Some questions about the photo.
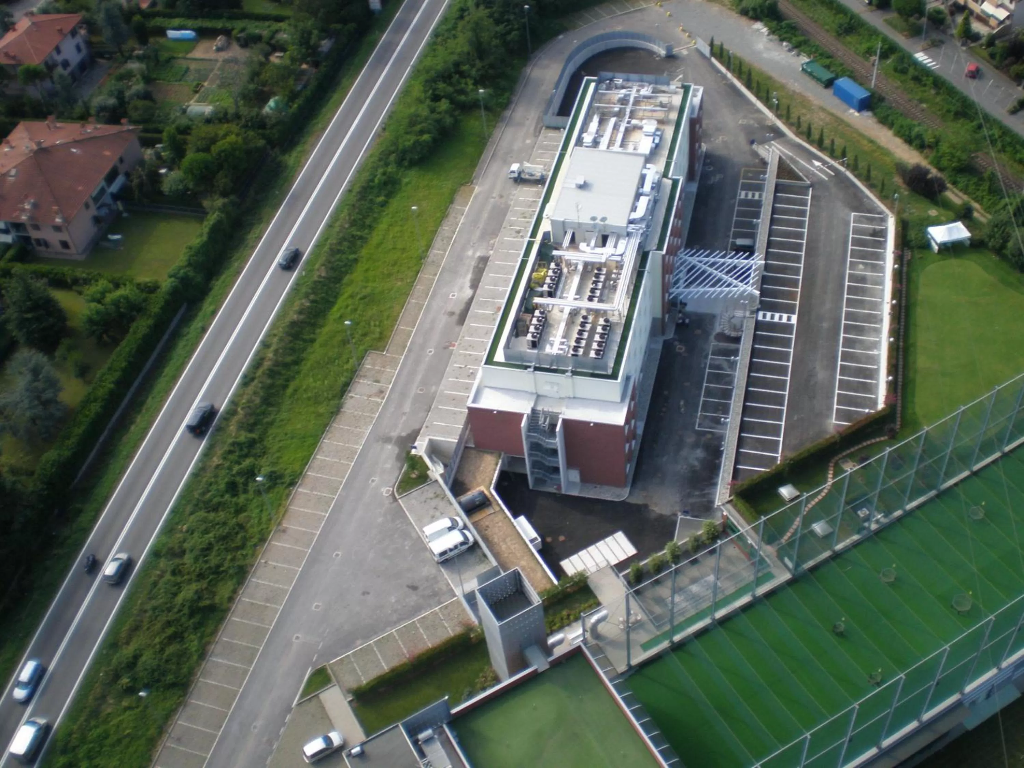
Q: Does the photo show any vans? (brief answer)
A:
Yes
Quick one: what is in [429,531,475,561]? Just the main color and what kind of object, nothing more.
white van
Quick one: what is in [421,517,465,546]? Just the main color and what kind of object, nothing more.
white van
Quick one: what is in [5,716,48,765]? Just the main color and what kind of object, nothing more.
white car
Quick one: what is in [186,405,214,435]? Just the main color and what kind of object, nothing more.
black car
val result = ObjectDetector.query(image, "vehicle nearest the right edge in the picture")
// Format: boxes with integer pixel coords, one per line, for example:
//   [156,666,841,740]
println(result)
[966,64,980,79]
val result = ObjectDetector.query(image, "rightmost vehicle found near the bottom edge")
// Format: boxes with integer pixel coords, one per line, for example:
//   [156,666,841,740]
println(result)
[300,731,347,768]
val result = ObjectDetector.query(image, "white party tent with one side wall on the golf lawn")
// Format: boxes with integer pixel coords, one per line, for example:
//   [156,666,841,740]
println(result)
[925,222,971,256]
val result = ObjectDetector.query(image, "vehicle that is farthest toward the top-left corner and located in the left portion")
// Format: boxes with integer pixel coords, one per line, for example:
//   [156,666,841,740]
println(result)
[279,250,299,270]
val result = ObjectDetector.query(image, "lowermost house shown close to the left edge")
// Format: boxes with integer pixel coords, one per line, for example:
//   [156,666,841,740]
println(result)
[0,120,150,258]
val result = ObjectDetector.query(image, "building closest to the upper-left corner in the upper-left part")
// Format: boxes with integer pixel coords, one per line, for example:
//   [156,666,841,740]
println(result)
[0,9,90,94]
